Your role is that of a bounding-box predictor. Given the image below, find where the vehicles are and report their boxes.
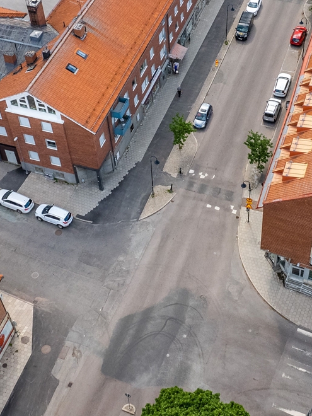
[235,9,256,38]
[270,72,292,98]
[246,0,262,13]
[289,26,309,46]
[260,97,284,125]
[191,101,213,130]
[0,188,36,215]
[33,202,75,231]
